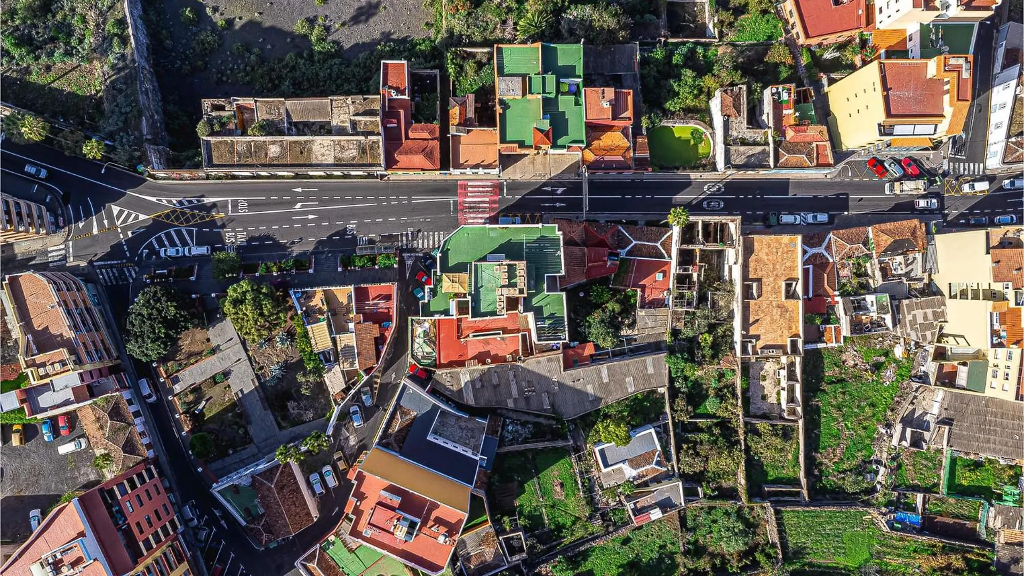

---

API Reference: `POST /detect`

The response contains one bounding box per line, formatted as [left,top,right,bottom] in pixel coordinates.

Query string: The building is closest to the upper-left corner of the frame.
[0,192,51,246]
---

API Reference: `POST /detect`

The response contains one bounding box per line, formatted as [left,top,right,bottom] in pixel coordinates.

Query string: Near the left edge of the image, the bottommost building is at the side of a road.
[0,460,203,576]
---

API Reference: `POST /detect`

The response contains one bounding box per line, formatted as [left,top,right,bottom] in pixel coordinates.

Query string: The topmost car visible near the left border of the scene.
[24,163,50,178]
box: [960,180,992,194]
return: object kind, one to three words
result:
vehicle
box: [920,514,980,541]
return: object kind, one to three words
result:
shed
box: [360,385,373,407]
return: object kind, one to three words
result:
vehicle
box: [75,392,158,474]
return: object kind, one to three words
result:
house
